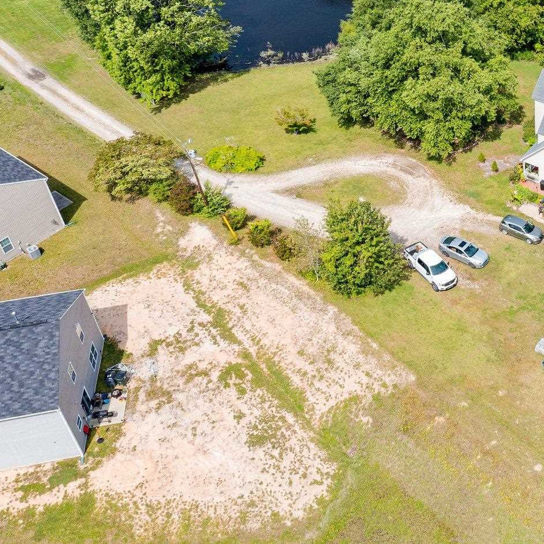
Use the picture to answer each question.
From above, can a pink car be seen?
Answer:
No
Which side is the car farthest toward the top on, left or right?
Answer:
right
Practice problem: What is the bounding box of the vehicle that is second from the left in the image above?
[436,231,491,267]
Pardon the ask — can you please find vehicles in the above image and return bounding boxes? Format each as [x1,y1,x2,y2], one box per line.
[497,209,544,243]
[436,231,491,267]
[405,237,461,291]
